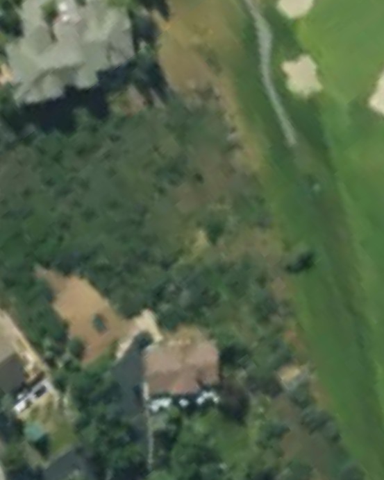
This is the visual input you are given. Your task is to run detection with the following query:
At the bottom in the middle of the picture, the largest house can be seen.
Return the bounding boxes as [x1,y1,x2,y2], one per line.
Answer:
[143,326,219,405]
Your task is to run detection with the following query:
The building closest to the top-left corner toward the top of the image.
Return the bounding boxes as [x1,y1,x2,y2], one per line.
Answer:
[0,2,138,105]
